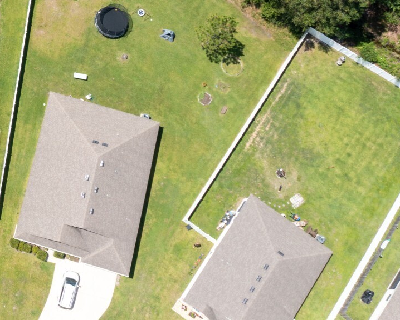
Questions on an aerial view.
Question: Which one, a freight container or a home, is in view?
home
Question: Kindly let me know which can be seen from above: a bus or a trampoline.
trampoline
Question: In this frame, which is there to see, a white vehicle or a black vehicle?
white vehicle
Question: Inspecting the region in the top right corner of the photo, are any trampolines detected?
No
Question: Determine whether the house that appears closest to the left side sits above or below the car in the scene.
above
